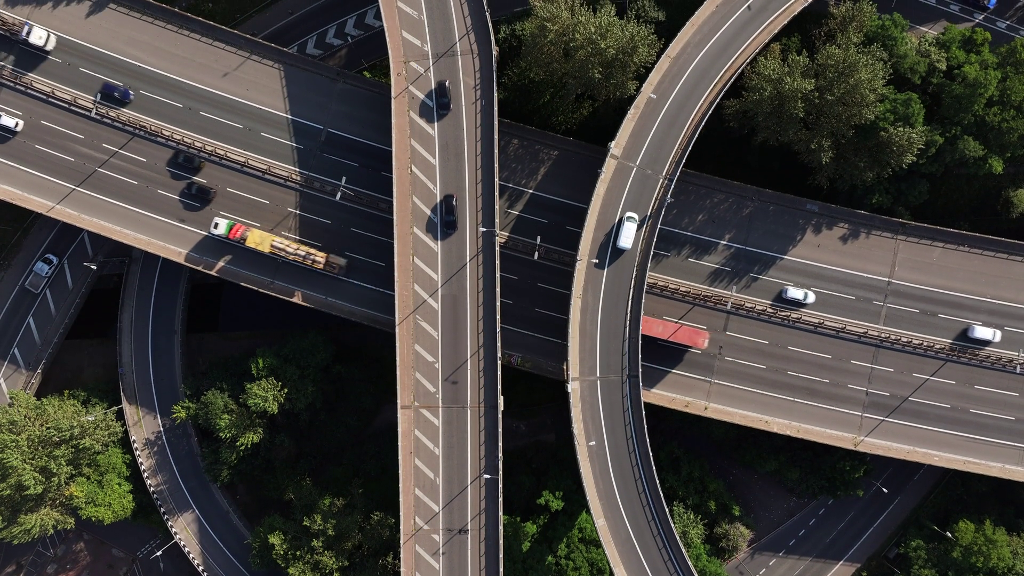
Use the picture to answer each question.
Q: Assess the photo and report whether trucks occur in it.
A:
Yes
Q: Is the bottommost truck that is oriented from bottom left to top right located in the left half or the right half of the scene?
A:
left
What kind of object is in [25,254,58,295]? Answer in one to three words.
truck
